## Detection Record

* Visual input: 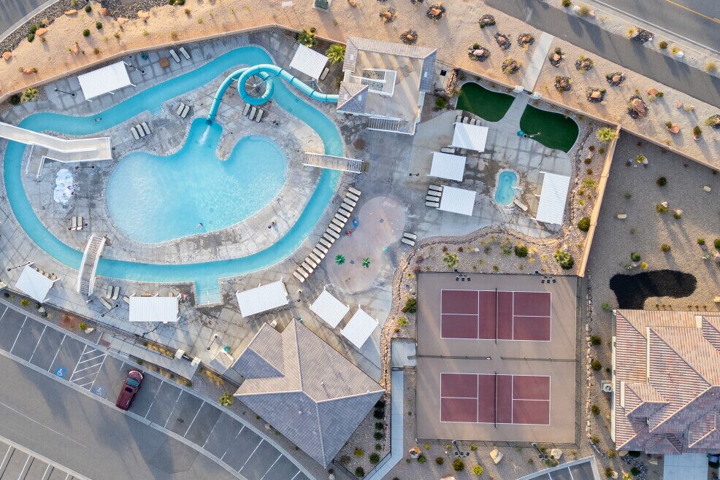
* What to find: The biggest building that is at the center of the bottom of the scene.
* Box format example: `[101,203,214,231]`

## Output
[232,319,385,470]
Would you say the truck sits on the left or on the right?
left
